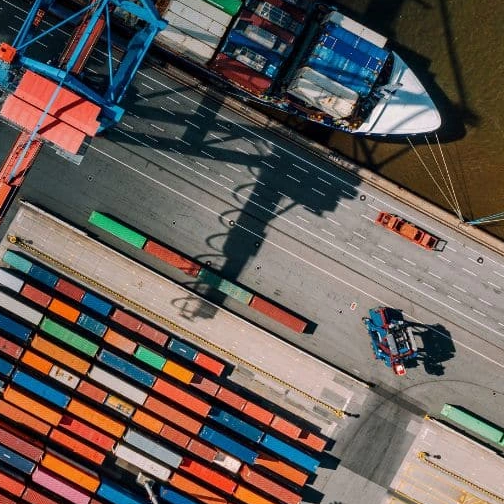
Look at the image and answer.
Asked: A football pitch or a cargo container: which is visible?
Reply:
cargo container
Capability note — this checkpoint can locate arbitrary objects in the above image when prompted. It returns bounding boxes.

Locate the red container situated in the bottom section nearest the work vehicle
[249,295,308,334]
